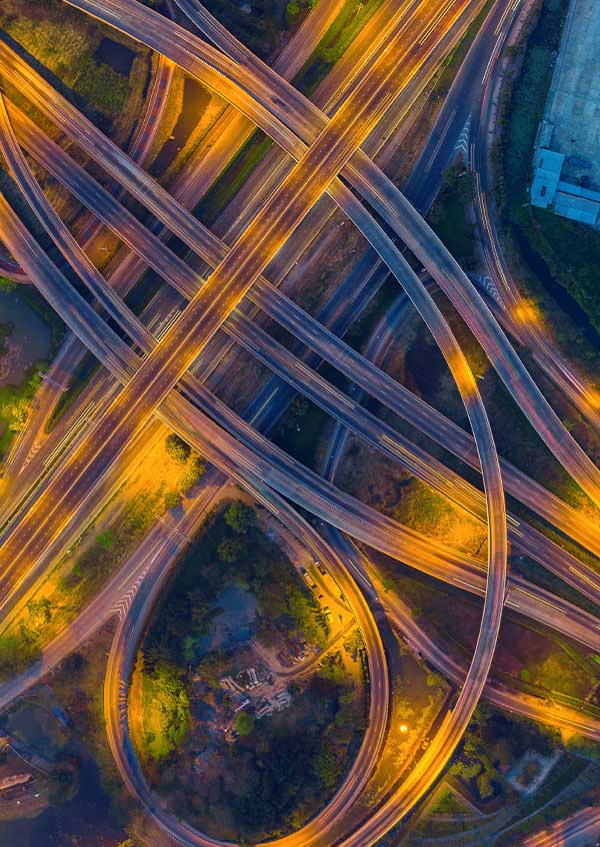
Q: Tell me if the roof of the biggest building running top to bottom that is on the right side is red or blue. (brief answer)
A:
blue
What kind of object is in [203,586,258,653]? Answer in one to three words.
pond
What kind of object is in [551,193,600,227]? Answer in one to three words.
building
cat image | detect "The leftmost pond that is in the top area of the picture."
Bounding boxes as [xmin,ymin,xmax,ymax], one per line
[0,290,52,371]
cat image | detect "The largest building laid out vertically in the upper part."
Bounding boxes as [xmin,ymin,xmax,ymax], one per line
[528,149,564,209]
